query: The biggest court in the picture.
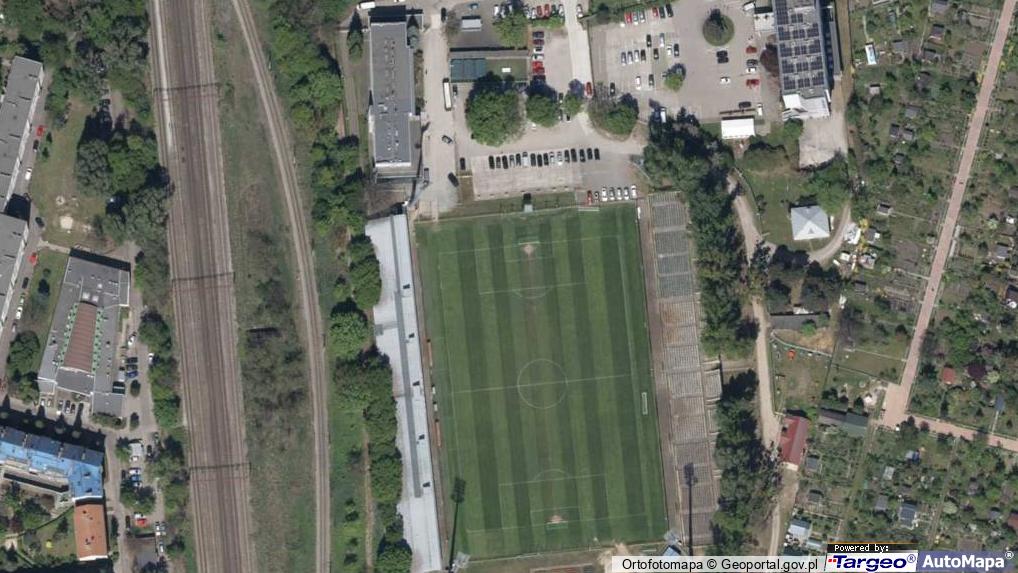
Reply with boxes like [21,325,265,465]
[486,59,526,83]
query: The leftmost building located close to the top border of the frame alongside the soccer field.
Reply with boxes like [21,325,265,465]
[368,14,423,183]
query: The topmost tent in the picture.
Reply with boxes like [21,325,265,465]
[721,119,755,138]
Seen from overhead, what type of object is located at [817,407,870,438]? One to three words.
house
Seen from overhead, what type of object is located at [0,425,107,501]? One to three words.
house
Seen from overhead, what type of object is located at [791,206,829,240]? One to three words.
building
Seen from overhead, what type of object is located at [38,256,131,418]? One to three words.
building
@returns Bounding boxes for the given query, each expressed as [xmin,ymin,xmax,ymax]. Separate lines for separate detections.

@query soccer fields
[419,203,667,562]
